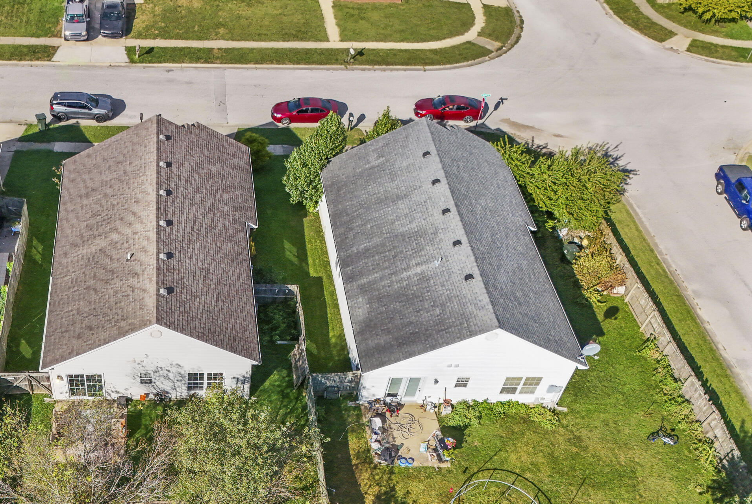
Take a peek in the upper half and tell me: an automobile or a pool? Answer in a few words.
automobile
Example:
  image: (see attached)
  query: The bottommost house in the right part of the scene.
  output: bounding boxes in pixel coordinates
[319,119,591,404]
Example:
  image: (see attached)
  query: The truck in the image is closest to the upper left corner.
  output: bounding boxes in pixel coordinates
[63,0,92,35]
